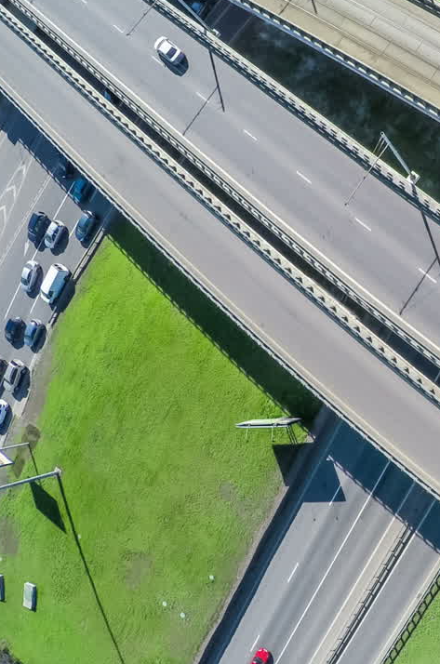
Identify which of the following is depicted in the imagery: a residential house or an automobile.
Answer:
automobile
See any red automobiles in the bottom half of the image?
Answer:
Yes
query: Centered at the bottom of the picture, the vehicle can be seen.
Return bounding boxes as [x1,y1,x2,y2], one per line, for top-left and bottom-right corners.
[250,644,271,664]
